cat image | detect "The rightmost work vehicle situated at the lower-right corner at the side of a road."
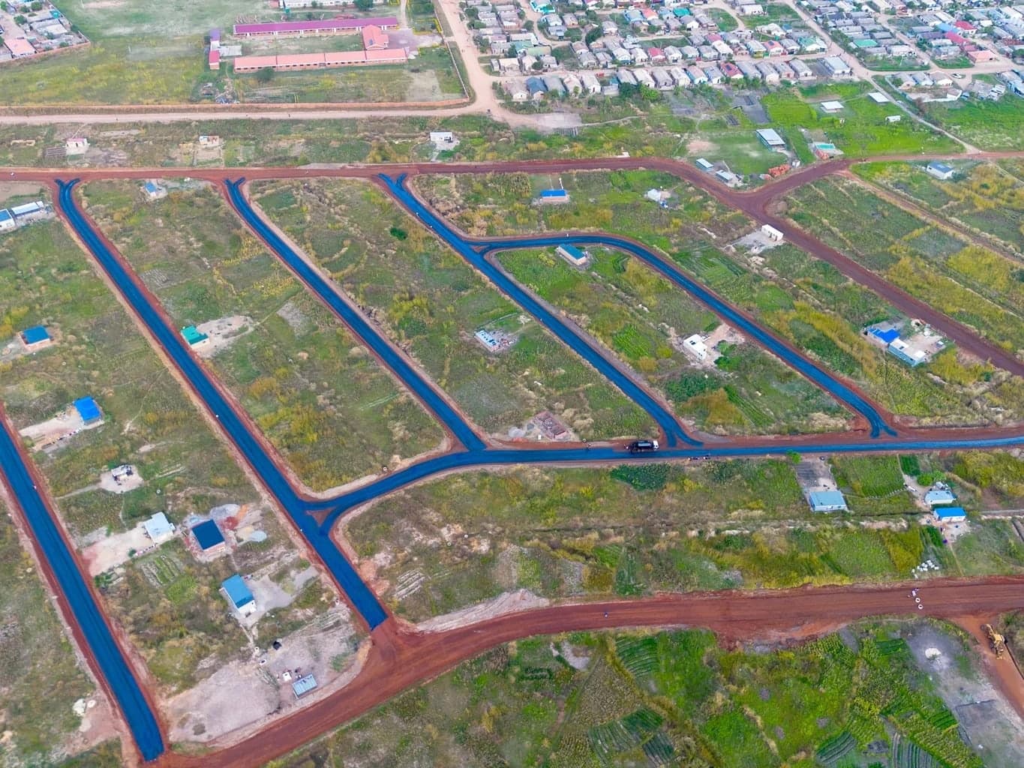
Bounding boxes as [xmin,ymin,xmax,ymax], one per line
[983,622,1008,662]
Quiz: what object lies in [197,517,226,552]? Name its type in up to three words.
house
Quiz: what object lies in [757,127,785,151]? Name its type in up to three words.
barn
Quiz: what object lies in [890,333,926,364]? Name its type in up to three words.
house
